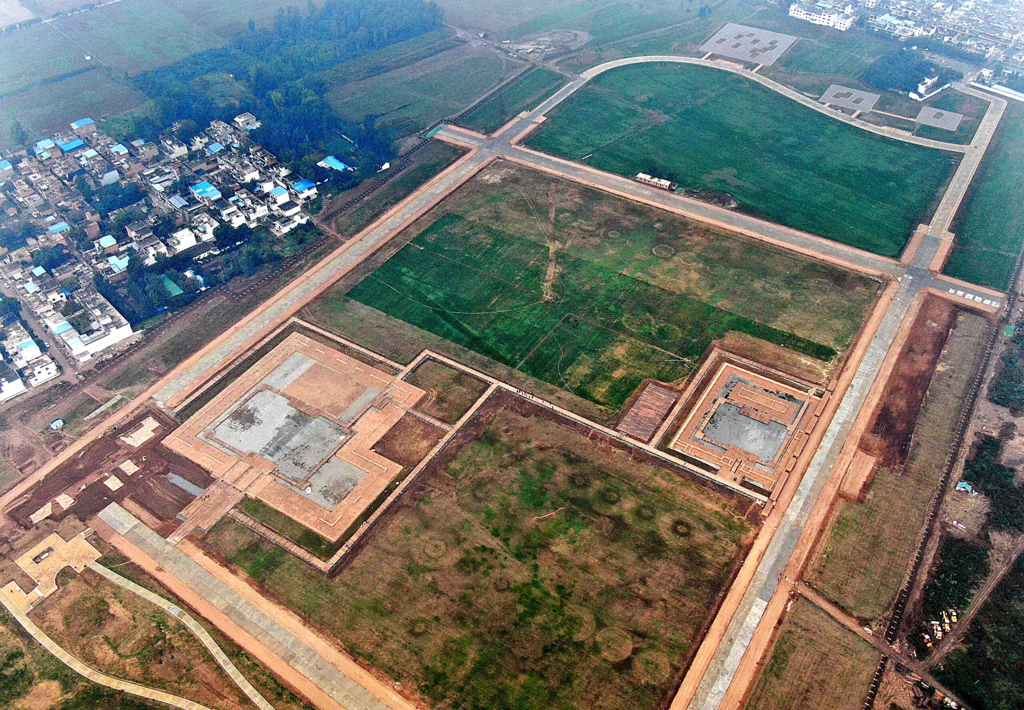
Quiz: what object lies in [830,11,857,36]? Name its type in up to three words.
house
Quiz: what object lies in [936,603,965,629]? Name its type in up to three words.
work vehicle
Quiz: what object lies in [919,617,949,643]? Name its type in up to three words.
work vehicle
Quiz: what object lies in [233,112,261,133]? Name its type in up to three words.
house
